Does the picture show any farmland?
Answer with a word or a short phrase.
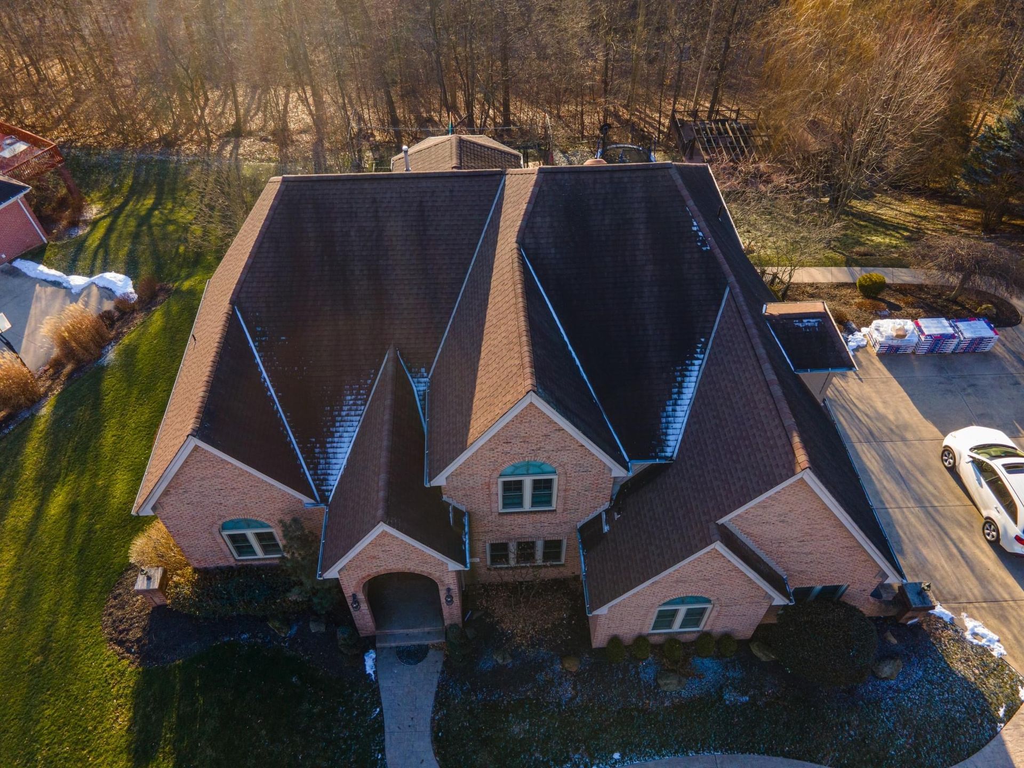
No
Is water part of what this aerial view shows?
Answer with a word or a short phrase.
No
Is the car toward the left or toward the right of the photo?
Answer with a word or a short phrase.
right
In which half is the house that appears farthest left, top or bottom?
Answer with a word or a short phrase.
top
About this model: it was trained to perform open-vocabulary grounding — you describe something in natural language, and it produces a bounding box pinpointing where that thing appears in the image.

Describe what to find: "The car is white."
[942,429,1024,566]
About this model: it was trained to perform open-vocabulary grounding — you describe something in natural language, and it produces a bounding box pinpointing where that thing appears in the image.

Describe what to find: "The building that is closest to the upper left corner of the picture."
[0,167,50,271]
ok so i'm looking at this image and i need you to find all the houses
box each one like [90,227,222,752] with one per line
[0,167,50,271]
[137,134,903,647]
